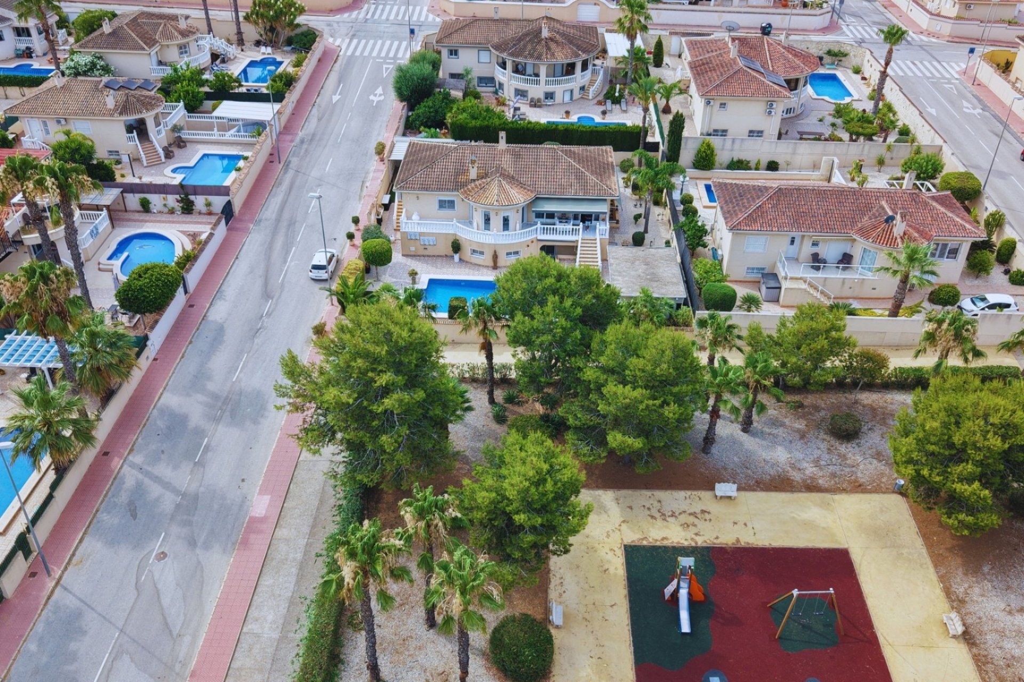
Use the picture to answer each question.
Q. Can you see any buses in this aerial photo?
No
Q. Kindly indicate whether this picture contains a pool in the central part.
Yes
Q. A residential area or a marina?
residential area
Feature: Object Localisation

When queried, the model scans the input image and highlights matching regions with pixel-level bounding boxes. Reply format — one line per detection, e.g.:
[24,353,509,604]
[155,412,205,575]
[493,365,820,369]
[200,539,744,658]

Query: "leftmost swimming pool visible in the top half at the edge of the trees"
[85,223,194,277]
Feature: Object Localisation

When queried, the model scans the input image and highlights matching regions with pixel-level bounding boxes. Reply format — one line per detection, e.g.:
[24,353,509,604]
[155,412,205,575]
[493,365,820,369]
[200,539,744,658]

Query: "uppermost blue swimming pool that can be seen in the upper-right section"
[808,70,862,101]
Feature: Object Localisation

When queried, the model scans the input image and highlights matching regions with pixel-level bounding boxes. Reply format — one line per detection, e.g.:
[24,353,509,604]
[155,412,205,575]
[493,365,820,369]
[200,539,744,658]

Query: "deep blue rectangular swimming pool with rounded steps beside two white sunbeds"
[238,55,287,84]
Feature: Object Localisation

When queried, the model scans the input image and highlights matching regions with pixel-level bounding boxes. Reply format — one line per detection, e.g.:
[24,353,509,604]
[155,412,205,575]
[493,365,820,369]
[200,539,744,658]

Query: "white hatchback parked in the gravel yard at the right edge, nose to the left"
[955,289,1022,316]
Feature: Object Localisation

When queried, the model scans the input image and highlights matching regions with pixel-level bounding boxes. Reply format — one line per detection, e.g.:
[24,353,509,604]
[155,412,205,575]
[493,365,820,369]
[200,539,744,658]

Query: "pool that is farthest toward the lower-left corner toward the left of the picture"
[0,418,48,548]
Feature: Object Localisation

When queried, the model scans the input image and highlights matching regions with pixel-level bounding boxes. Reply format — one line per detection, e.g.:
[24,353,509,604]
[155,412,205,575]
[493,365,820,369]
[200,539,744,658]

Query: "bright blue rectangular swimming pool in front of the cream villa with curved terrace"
[412,274,531,321]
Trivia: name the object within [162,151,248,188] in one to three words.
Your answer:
swimming pool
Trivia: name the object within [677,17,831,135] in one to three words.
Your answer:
house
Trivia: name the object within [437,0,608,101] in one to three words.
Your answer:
house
